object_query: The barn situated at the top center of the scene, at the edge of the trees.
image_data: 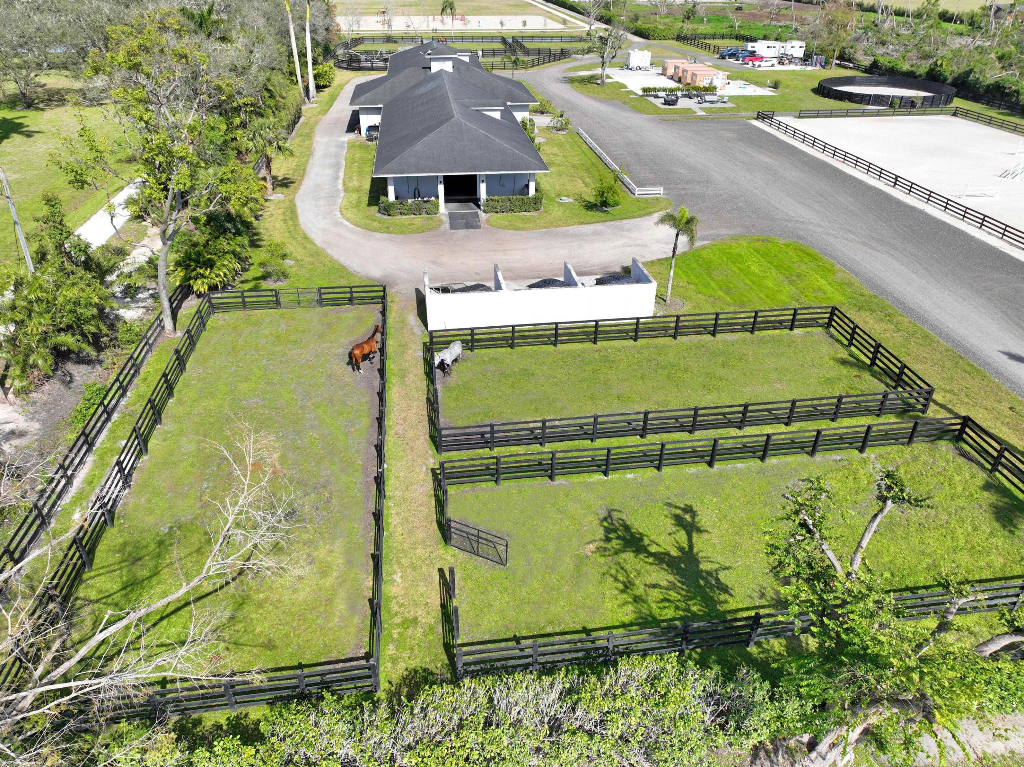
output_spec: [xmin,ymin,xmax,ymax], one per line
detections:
[348,39,550,212]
